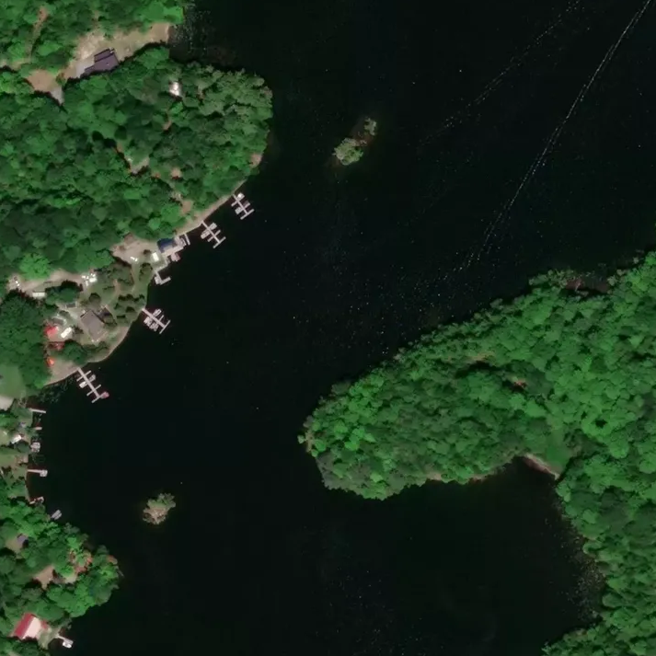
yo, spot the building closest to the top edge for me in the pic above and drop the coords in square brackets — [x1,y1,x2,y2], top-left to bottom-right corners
[84,49,119,74]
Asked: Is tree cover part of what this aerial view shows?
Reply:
Yes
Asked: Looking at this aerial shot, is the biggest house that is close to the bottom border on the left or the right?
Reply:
left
